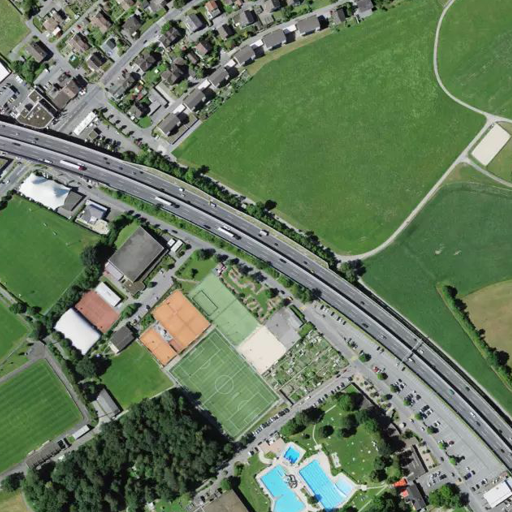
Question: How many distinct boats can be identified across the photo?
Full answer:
Not a single boat can be seen.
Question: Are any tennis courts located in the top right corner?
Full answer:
No, looking in the top right corner, there is no tennis court.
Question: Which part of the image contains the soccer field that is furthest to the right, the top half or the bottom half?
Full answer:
Seen from above, the soccer field that is furthest to the right lies in the bottom half of the view.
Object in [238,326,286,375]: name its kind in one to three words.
sports court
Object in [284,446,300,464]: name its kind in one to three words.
swimming pool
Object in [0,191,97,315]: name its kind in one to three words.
soccer field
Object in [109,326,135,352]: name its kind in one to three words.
building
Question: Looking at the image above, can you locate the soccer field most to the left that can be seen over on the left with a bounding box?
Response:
[0,300,29,360]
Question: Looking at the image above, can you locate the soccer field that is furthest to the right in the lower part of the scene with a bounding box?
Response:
[170,330,280,440]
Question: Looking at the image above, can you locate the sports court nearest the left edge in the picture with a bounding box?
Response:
[75,290,120,332]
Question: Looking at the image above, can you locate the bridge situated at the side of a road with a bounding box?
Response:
[0,138,512,474]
